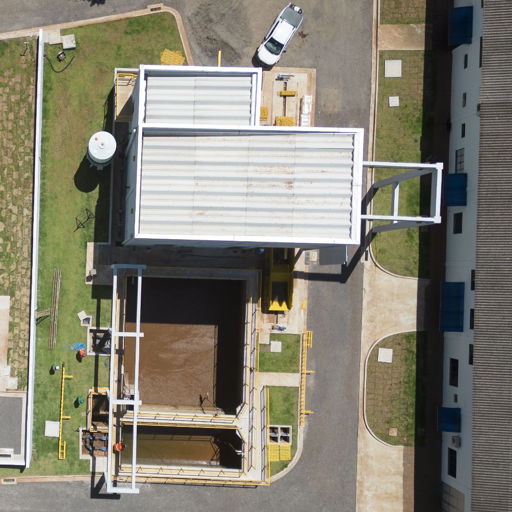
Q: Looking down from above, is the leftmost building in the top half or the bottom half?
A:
top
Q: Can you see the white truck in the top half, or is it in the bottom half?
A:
top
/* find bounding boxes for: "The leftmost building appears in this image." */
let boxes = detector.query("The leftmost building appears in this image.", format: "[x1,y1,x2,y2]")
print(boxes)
[114,64,364,254]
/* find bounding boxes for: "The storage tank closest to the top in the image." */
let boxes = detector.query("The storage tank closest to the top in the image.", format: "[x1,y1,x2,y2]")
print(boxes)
[85,134,116,175]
